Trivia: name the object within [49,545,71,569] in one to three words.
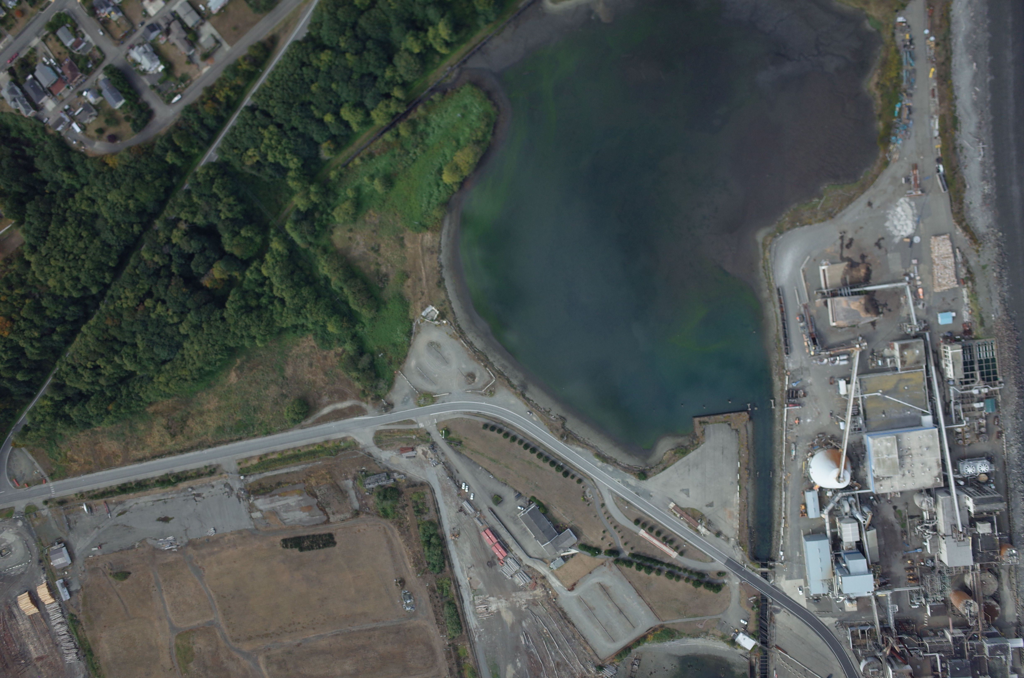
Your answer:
building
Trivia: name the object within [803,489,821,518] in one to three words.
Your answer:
shed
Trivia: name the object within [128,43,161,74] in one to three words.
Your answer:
house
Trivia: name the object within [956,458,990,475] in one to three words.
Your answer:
cooling tower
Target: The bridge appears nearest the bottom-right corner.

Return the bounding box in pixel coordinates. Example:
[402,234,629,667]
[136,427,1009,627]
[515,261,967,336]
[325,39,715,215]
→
[726,558,782,604]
